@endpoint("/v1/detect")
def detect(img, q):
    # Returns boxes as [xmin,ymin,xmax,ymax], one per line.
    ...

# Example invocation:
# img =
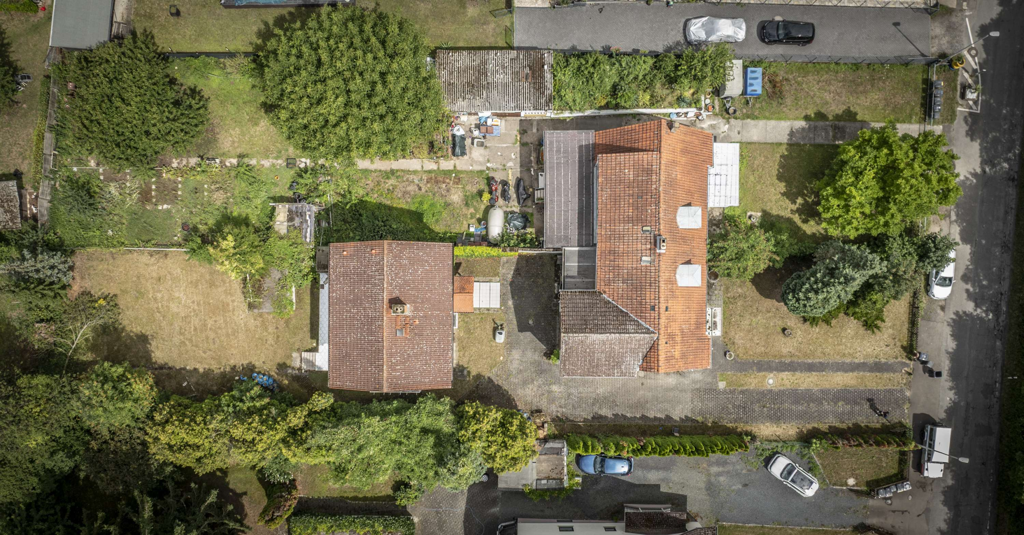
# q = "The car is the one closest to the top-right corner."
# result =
[757,17,816,47]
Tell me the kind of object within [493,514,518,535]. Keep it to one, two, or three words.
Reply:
car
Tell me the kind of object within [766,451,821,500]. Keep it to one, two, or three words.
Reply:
car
